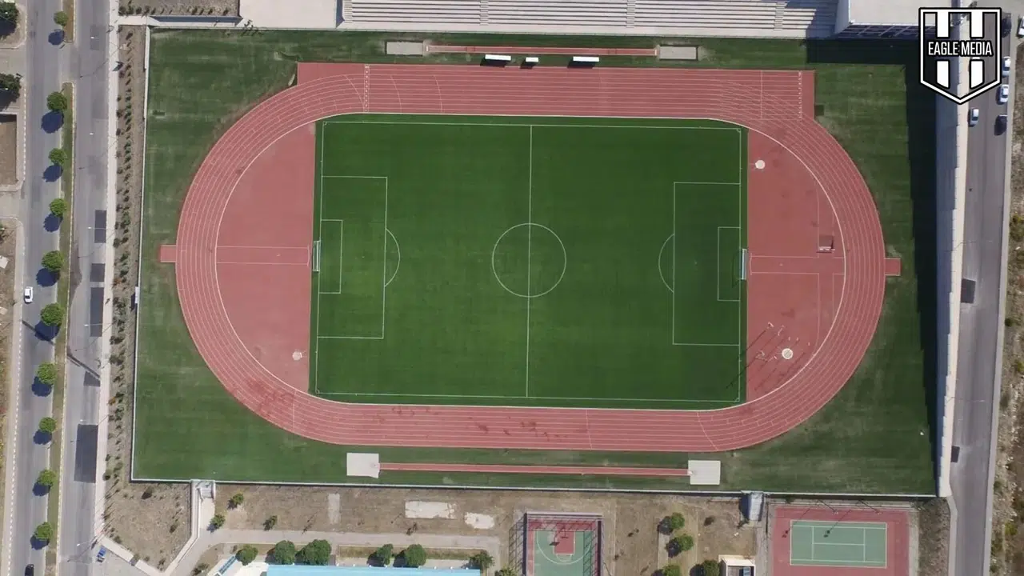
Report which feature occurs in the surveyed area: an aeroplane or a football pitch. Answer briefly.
football pitch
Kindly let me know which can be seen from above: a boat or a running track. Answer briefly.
running track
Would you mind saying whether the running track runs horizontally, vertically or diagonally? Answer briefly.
horizontally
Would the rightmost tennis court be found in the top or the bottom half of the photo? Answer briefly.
bottom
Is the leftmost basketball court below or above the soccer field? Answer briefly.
below it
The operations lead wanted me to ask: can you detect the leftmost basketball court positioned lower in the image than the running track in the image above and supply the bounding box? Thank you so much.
[527,516,601,576]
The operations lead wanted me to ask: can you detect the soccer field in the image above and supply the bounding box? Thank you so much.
[307,114,747,410]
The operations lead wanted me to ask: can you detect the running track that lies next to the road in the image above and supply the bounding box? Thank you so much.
[160,62,901,451]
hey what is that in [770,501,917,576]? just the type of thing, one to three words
tennis court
